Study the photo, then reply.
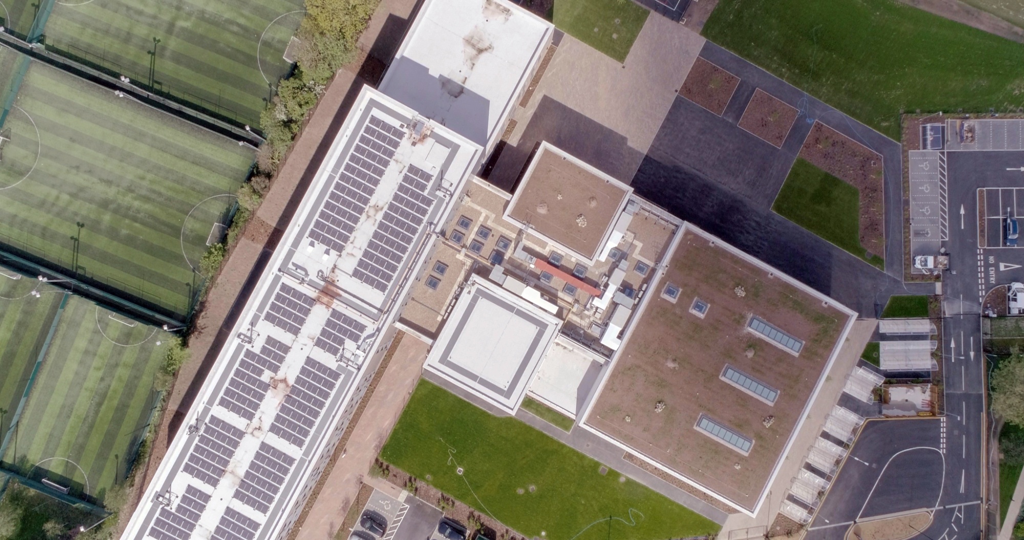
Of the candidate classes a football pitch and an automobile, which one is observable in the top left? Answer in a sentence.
You can see a football pitch in the top left.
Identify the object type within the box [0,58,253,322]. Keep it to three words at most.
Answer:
soccer field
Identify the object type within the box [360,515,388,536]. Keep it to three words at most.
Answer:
car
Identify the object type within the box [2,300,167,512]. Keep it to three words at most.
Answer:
soccer field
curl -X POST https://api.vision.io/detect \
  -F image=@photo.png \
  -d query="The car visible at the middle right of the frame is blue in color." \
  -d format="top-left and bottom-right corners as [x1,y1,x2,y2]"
[1003,218,1019,246]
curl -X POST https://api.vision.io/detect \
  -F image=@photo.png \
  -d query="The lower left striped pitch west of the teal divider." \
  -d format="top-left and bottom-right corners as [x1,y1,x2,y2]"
[0,271,63,445]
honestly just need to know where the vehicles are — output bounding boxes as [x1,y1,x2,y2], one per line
[1003,218,1019,246]
[910,254,950,274]
[1007,278,1024,312]
[438,524,466,540]
[350,532,370,540]
[360,515,388,536]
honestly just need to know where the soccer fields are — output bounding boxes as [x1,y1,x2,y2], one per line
[45,0,306,135]
[0,44,31,120]
[0,58,253,322]
[2,300,167,512]
[0,271,63,445]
